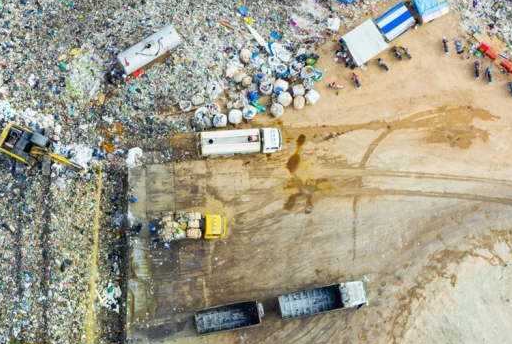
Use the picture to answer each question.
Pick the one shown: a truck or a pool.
truck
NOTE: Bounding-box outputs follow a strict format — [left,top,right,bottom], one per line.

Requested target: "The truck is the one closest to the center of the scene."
[198,129,283,158]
